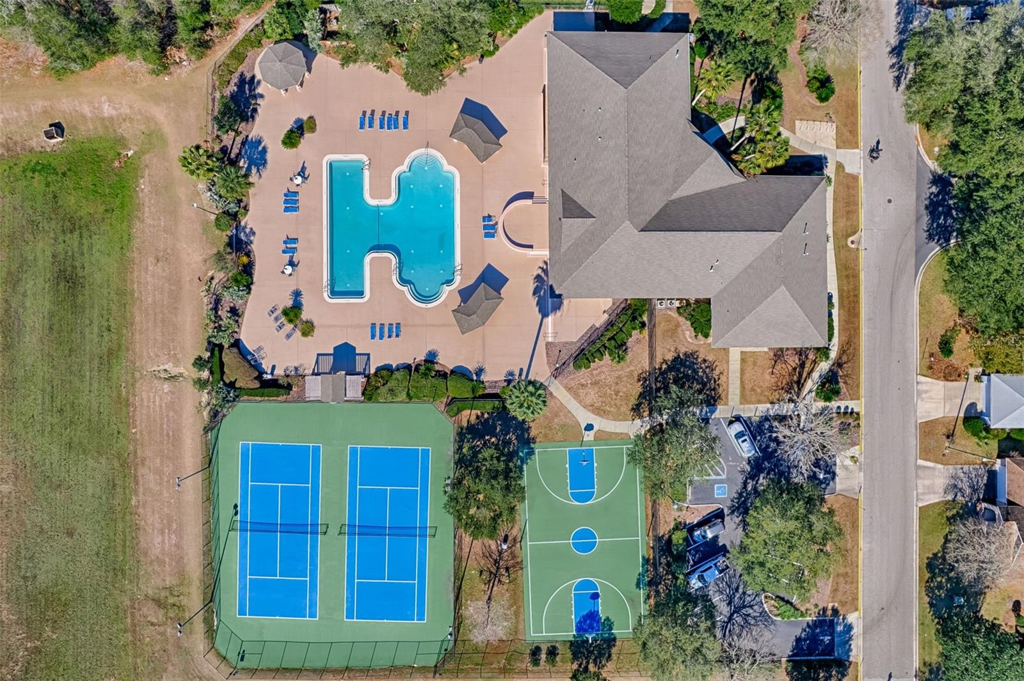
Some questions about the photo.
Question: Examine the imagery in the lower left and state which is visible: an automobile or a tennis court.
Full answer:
Visible in the lower left is a tennis court.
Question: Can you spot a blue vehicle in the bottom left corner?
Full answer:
No, no blue vehicle is visible in the bottom left corner.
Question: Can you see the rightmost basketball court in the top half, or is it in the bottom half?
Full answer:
Seen from above, the rightmost basketball court lies in the bottom half of the view.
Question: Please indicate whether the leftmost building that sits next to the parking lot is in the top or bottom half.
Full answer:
You can find the leftmost building that sits next to the parking lot in the top half.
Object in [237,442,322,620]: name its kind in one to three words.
tennis court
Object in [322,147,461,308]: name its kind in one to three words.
swimming pool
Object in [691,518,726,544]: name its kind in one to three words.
car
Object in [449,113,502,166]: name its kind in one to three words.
building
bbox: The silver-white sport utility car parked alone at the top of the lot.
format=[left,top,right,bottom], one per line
[728,421,759,458]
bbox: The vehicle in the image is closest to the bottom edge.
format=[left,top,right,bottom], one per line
[687,555,731,590]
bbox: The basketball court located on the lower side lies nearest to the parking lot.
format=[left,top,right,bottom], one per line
[519,439,650,642]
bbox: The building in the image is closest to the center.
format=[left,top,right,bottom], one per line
[452,282,504,335]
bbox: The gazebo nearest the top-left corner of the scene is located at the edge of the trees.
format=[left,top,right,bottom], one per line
[259,42,314,98]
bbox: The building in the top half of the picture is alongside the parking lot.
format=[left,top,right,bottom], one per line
[547,31,827,348]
